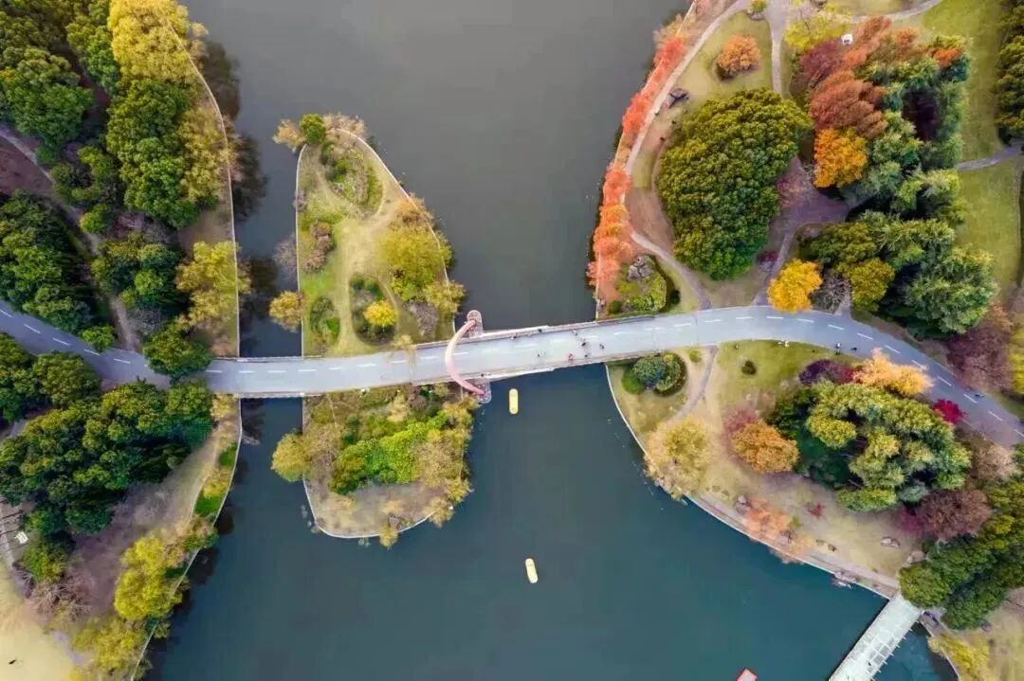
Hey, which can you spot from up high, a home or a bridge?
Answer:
bridge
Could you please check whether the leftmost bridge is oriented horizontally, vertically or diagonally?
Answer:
horizontally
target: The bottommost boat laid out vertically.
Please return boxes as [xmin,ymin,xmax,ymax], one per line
[525,558,537,583]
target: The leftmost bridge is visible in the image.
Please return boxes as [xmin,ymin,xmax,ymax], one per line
[206,356,307,398]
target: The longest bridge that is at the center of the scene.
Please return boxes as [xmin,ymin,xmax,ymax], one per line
[413,310,613,403]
